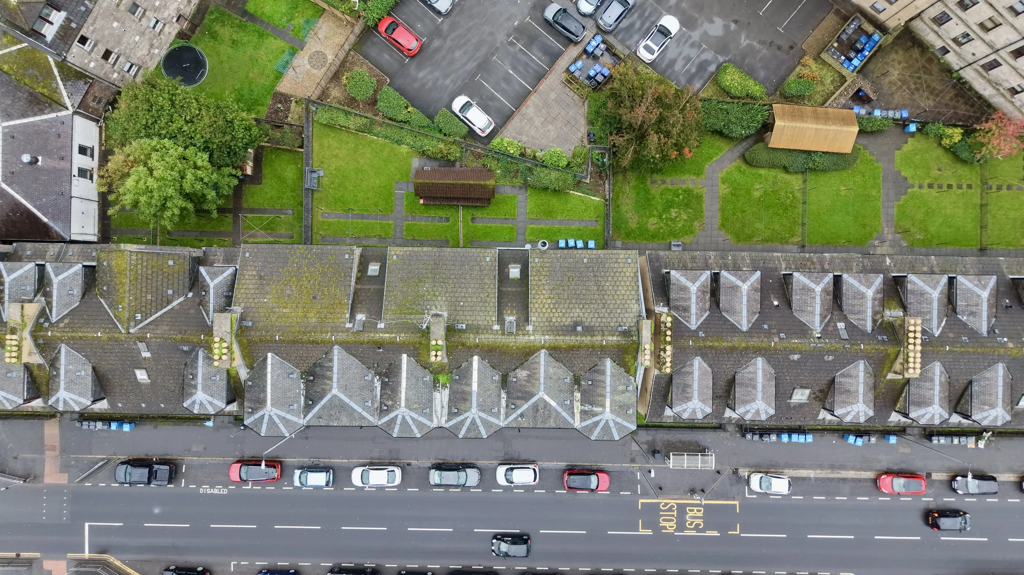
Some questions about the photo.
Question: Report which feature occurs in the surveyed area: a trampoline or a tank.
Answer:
trampoline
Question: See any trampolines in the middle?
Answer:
No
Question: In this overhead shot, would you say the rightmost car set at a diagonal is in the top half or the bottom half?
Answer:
top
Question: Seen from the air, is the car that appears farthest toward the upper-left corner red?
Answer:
Yes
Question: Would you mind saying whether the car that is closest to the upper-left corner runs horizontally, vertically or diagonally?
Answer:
diagonally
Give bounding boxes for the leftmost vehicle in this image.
[115,461,177,488]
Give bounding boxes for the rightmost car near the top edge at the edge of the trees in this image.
[637,15,678,65]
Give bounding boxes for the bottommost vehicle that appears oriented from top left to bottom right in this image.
[452,94,496,139]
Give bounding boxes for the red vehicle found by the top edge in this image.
[377,17,423,58]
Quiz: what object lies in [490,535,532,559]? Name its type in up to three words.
car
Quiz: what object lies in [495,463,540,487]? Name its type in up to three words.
car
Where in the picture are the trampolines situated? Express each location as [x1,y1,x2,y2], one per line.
[161,39,210,87]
